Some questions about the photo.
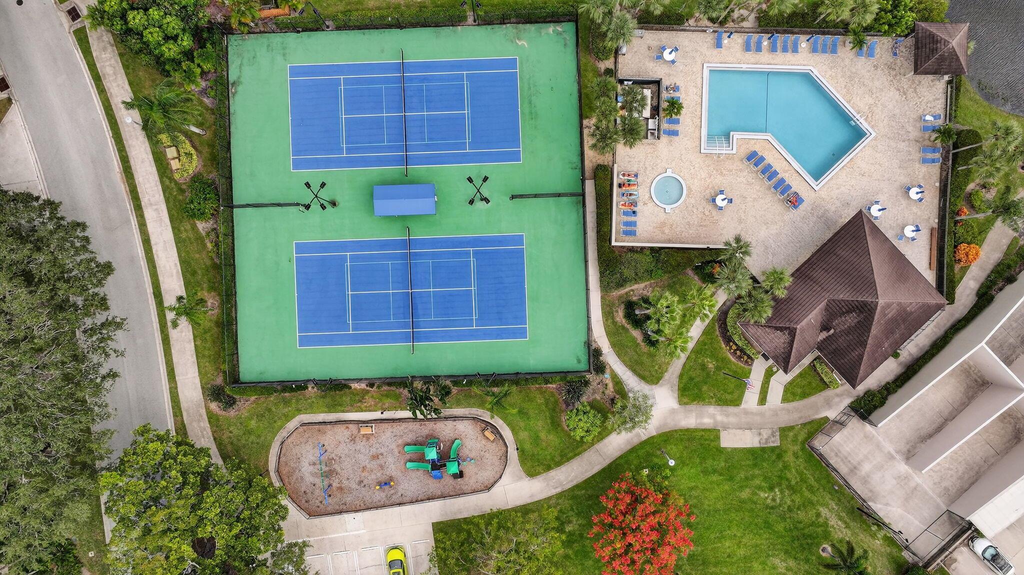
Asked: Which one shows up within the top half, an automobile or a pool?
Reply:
pool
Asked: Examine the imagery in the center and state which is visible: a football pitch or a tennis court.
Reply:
tennis court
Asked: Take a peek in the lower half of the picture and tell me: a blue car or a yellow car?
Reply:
yellow car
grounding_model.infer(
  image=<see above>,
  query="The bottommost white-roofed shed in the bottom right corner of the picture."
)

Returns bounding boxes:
[949,468,1024,538]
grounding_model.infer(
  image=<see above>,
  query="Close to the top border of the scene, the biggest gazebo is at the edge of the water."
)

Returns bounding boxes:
[904,21,970,78]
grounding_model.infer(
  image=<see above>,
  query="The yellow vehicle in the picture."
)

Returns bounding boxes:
[384,546,407,575]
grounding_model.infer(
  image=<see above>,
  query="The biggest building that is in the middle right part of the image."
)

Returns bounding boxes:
[738,209,948,389]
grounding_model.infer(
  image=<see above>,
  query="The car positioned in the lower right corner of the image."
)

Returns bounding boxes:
[967,536,1014,575]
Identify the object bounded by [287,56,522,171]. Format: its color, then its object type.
blue tennis court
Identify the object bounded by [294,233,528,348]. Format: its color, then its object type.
blue tennis court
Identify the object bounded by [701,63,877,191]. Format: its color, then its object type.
blue swimming pool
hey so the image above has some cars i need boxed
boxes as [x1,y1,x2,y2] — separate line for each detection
[384,546,407,575]
[967,536,1014,575]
